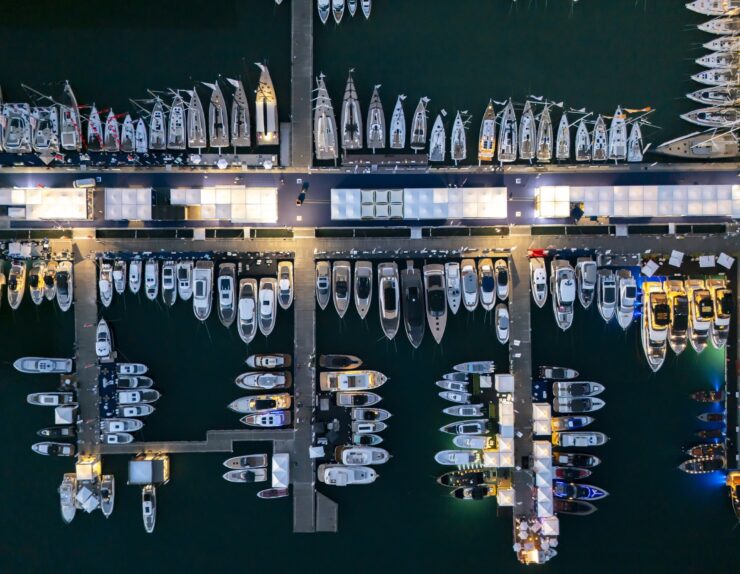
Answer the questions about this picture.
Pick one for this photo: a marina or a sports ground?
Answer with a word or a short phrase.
marina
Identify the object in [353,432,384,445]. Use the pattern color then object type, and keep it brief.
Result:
blue boat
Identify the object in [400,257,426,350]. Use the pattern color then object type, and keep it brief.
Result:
black boat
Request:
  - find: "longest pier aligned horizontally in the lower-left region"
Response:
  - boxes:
[100,429,293,455]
